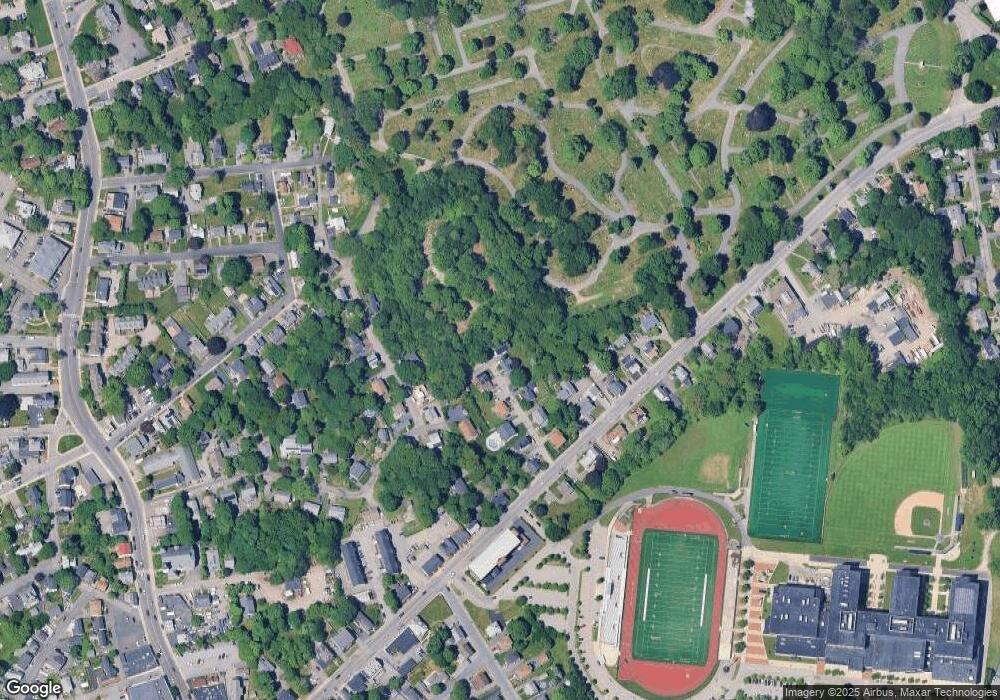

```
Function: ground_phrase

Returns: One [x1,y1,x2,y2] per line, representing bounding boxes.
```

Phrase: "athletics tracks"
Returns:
[619,497,729,697]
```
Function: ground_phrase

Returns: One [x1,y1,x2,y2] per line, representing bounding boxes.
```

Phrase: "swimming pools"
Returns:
[483,432,502,450]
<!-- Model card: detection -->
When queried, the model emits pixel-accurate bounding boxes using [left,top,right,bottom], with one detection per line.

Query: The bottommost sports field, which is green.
[633,530,719,666]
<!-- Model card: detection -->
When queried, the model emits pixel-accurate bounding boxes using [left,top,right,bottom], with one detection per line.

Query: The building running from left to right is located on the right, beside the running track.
[764,562,983,685]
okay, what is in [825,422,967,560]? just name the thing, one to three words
baseball field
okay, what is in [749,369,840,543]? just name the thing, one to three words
sports field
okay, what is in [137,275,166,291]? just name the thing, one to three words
house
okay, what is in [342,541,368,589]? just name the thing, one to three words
building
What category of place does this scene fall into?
residential area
